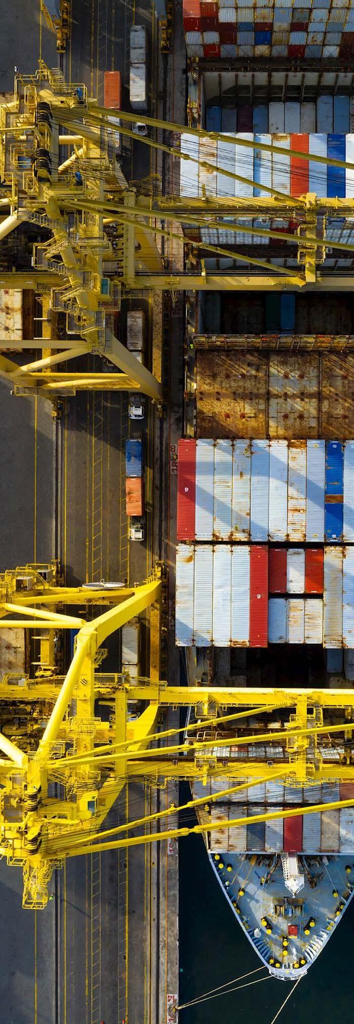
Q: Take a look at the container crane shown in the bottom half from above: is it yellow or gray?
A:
yellow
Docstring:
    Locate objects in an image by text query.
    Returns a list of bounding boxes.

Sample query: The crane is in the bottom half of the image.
[0,559,354,916]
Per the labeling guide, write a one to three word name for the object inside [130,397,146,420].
vehicle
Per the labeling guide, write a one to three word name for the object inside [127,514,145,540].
vehicle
